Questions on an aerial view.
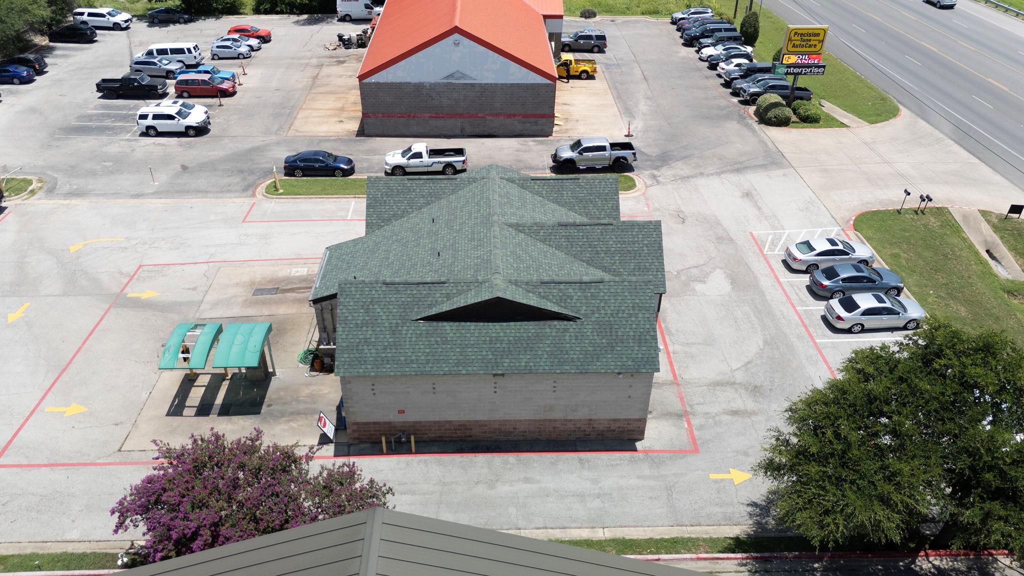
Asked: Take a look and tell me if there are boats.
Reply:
No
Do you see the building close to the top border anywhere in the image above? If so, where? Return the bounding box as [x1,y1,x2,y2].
[356,0,564,136]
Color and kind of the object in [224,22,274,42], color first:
red car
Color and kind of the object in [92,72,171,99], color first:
black truck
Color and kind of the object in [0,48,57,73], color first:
black car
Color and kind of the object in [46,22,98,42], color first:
black car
